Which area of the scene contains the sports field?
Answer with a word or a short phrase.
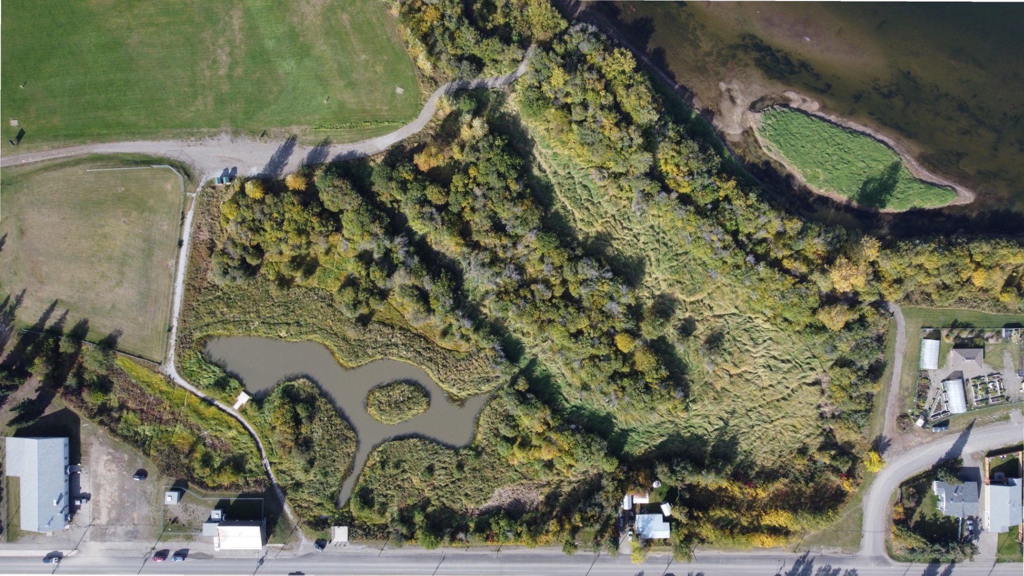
top left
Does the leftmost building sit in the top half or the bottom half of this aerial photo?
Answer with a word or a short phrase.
bottom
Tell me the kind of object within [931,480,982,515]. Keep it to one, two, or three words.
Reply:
house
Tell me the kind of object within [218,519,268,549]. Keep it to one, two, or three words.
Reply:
building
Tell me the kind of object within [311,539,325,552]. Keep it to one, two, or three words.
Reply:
vehicle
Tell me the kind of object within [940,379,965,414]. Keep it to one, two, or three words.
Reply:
greenhouse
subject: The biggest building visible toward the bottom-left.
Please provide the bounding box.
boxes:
[8,437,81,534]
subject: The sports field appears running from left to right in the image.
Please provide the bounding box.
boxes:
[0,0,420,154]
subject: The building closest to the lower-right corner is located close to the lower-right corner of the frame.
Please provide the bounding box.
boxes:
[983,483,1022,534]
